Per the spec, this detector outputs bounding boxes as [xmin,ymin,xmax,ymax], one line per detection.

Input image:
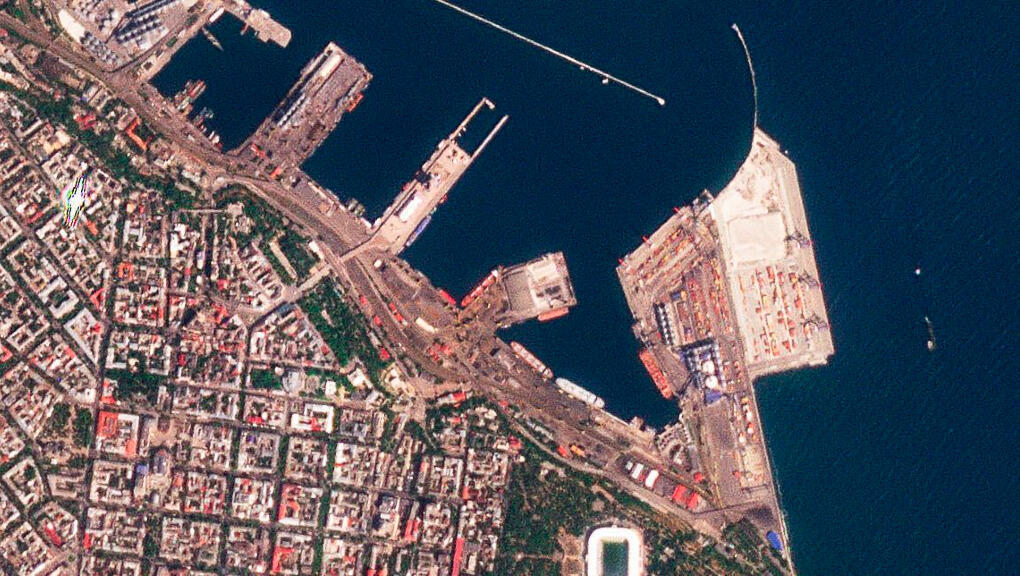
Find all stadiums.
[586,525,641,576]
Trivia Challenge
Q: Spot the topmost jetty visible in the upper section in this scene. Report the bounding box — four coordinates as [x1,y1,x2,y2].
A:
[227,0,291,47]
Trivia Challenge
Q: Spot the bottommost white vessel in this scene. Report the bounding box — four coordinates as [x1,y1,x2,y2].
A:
[557,380,607,409]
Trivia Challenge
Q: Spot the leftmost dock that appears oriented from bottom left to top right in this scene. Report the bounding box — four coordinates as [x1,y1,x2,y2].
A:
[223,41,372,183]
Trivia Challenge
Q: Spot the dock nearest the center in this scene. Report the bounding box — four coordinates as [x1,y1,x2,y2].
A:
[458,251,579,334]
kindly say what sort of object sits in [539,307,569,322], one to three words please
ship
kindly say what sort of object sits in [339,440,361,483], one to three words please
building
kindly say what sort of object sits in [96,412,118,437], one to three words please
building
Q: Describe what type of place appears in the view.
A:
port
